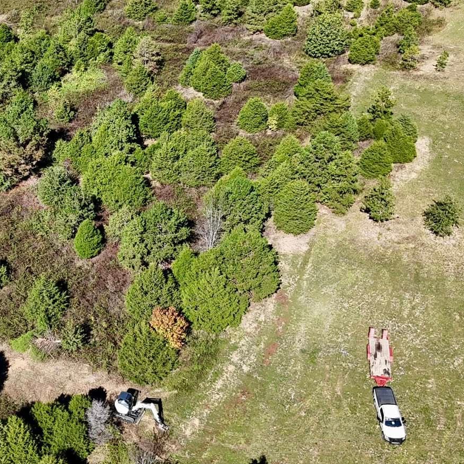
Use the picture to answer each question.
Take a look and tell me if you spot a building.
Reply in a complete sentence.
No, there is no building in the image.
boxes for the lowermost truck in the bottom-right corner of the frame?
[370,386,407,447]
